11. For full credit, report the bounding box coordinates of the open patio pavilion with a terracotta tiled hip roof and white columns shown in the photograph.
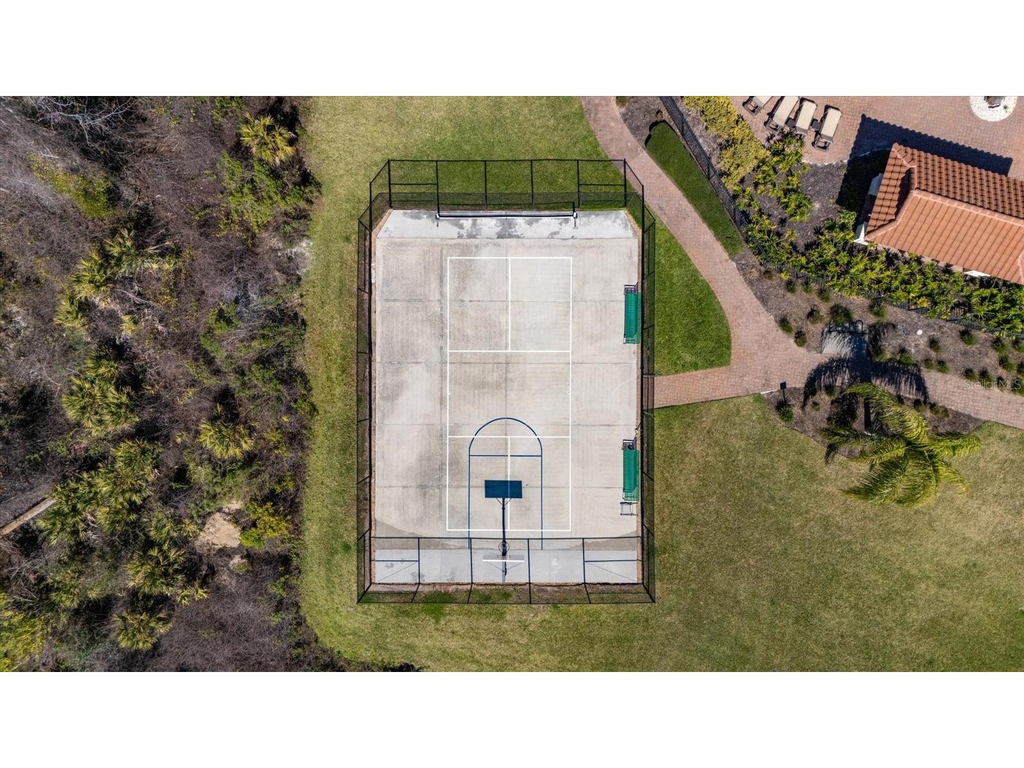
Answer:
[851,142,1024,290]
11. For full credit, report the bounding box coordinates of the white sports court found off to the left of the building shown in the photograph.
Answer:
[375,210,639,583]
